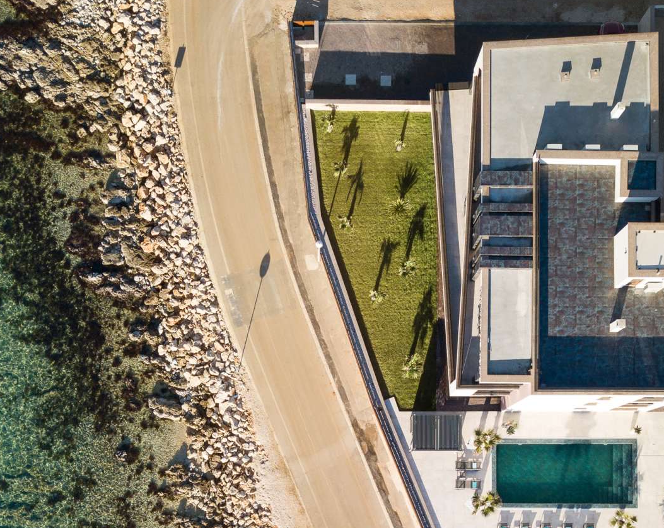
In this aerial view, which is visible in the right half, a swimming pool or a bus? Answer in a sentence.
The one visible in the right half is a swimming pool.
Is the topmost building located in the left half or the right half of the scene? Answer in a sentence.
You can find the topmost building on the right side of the picture.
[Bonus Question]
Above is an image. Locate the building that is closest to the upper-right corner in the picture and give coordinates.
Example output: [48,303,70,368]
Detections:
[467,32,664,410]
